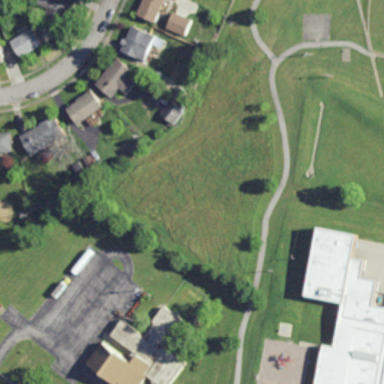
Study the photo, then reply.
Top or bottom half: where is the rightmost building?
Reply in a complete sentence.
The bottom half of the photo is where the rightmost building is.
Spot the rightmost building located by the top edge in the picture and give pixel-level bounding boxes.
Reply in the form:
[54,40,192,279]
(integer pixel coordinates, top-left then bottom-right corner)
[167,13,192,36]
